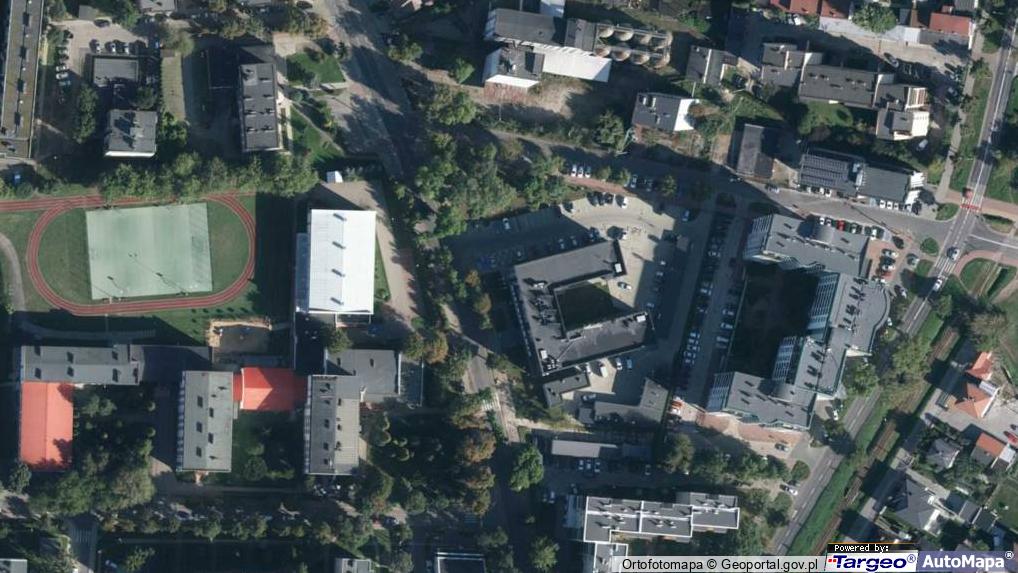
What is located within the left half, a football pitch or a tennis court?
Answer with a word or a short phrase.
football pitch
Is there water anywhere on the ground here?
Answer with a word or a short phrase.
No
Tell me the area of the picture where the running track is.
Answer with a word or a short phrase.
left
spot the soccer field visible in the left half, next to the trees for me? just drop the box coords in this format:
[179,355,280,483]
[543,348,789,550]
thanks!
[86,203,213,299]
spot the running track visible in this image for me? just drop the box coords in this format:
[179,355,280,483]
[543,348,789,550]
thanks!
[0,190,257,315]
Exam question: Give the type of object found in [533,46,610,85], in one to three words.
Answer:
building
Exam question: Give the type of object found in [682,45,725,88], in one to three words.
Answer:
house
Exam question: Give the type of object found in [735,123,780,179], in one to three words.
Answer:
shed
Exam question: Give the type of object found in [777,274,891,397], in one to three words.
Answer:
building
